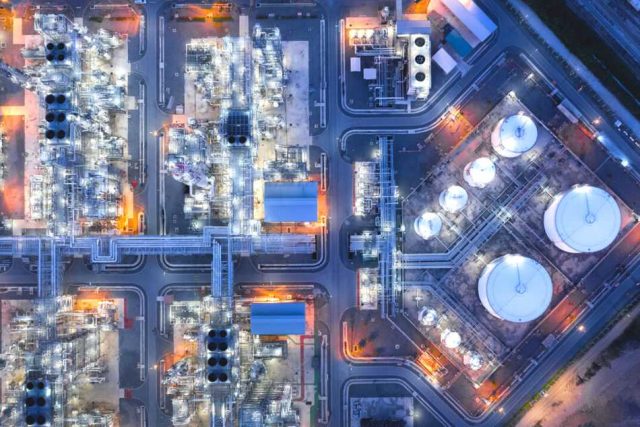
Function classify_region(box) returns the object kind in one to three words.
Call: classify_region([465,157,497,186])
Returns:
storage tank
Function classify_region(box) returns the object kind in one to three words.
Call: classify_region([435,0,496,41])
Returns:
building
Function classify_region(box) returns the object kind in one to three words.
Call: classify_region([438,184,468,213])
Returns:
storage tank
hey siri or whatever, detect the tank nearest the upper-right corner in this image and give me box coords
[493,114,538,157]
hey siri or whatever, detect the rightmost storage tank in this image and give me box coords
[546,186,622,254]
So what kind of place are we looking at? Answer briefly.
industrial area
